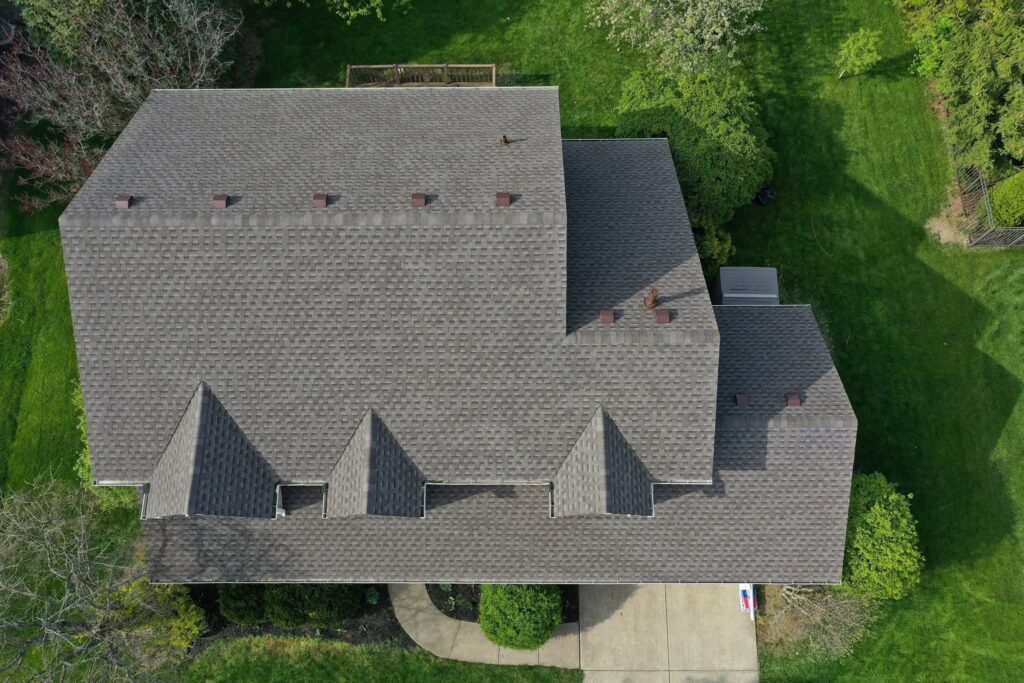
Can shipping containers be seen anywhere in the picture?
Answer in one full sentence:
No, I find no shipping container anywhere in the image.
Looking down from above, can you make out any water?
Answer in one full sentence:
No, no water is visible.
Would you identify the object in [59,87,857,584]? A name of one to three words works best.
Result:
house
